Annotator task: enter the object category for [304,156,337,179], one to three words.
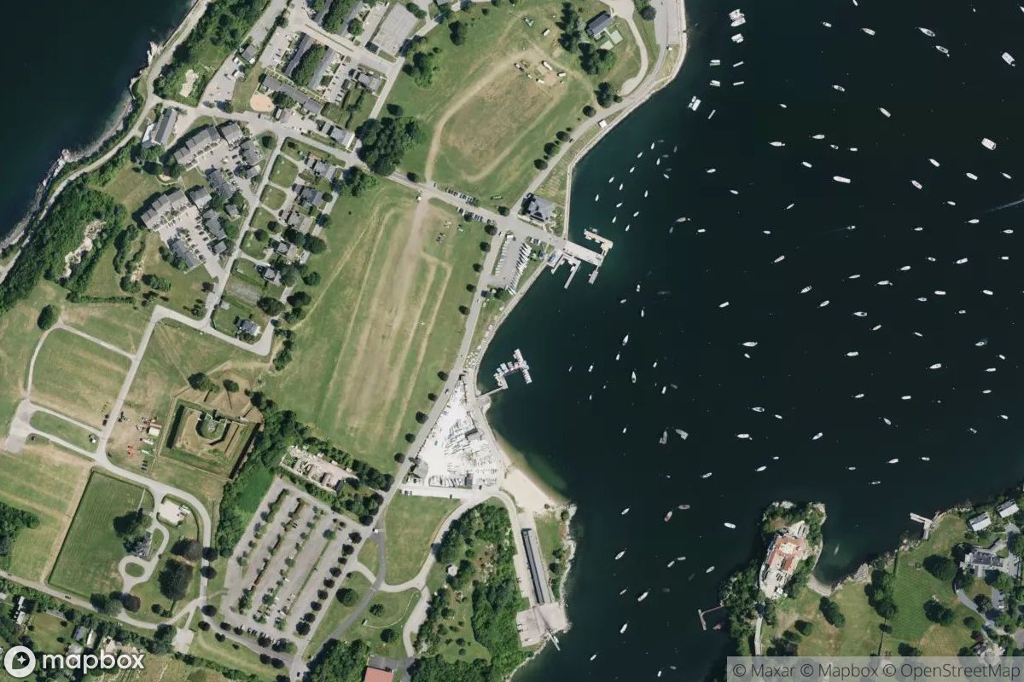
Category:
house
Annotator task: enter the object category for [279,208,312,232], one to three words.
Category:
house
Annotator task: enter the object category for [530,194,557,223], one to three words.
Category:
building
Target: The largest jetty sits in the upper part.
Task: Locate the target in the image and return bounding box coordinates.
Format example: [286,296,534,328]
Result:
[562,240,605,266]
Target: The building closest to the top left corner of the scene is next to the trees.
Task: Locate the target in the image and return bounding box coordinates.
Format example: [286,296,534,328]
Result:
[141,107,179,147]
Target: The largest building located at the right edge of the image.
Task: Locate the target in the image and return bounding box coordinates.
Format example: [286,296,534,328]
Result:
[967,551,1010,570]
